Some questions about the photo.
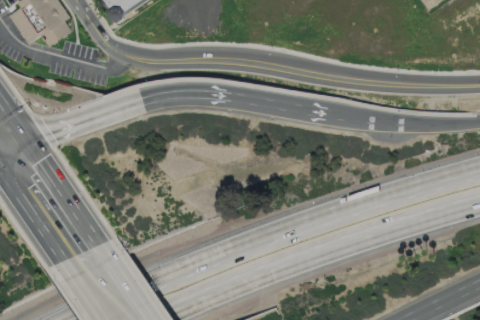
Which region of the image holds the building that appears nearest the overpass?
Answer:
top left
